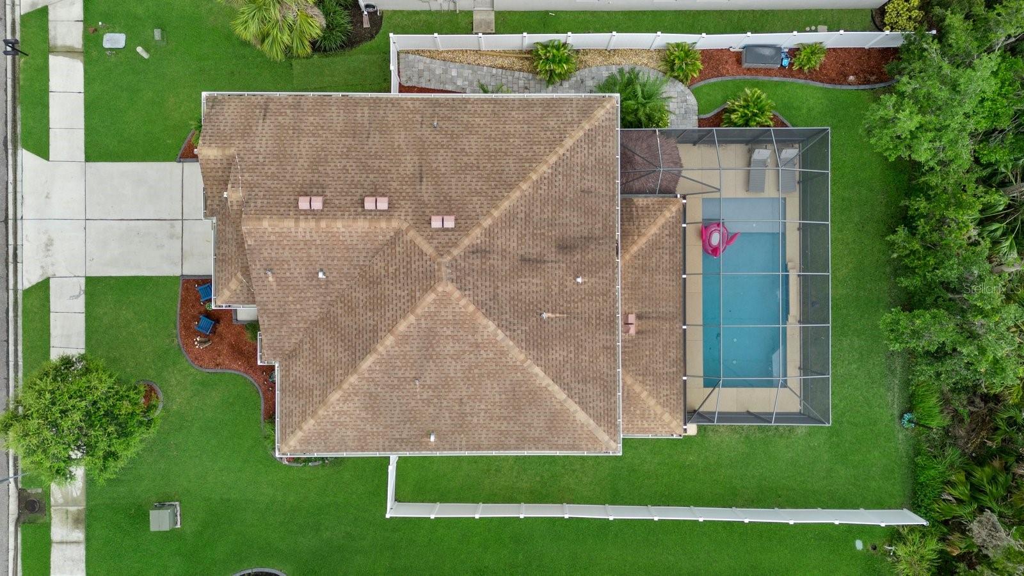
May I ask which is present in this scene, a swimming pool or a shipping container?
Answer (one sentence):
There is a swimming pool in the scene.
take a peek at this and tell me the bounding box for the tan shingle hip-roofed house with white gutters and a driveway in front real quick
[193,93,686,456]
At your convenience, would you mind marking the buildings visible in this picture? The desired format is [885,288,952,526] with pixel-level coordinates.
[193,93,686,456]
[361,0,891,14]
